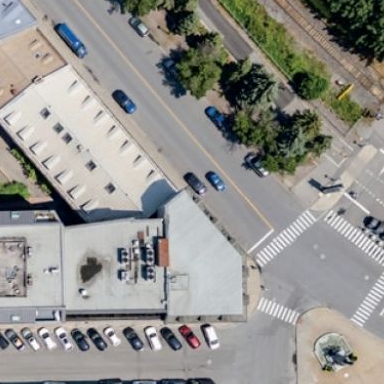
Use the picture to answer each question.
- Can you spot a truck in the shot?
Yes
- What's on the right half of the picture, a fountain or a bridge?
fountain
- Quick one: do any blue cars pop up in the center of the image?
Yes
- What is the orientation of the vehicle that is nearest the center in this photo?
diagonally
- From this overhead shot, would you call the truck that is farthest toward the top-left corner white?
No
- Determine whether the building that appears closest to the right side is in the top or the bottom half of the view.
bottom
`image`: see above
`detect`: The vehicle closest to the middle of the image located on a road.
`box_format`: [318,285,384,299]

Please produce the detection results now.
[183,170,207,196]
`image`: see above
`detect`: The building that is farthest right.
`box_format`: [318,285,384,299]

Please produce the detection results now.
[154,188,247,320]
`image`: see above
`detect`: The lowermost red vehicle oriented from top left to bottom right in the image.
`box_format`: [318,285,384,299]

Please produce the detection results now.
[180,324,200,349]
